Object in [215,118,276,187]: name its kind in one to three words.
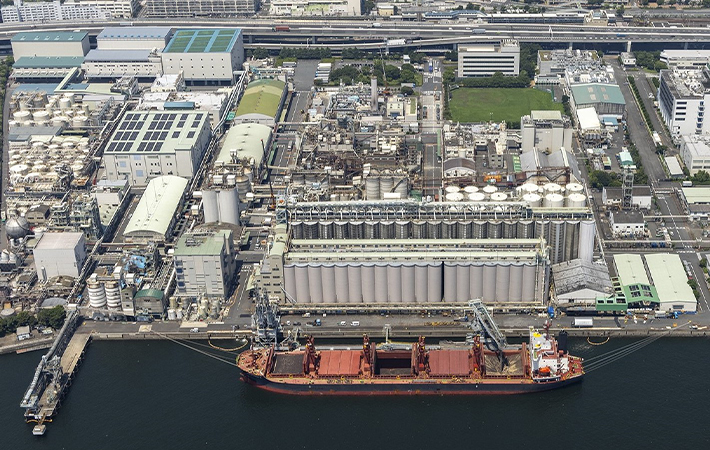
building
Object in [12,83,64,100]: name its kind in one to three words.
building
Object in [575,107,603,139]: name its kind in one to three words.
shed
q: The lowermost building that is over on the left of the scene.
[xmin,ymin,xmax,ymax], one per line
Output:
[122,173,192,248]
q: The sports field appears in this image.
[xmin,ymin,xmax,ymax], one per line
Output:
[449,86,564,124]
